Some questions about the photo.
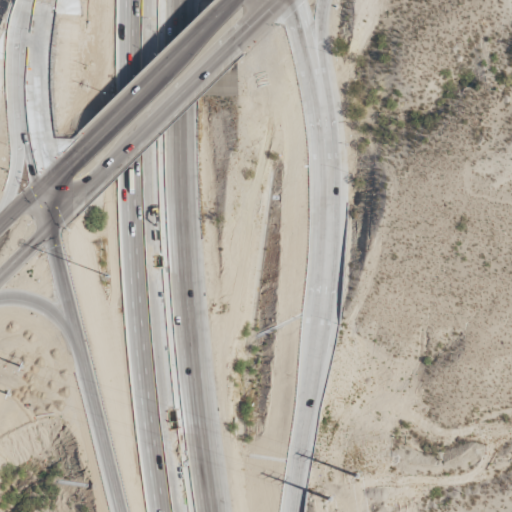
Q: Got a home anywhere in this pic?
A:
No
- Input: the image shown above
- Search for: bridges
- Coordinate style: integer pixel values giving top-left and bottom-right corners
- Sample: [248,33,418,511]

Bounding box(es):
[84,0,243,188]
